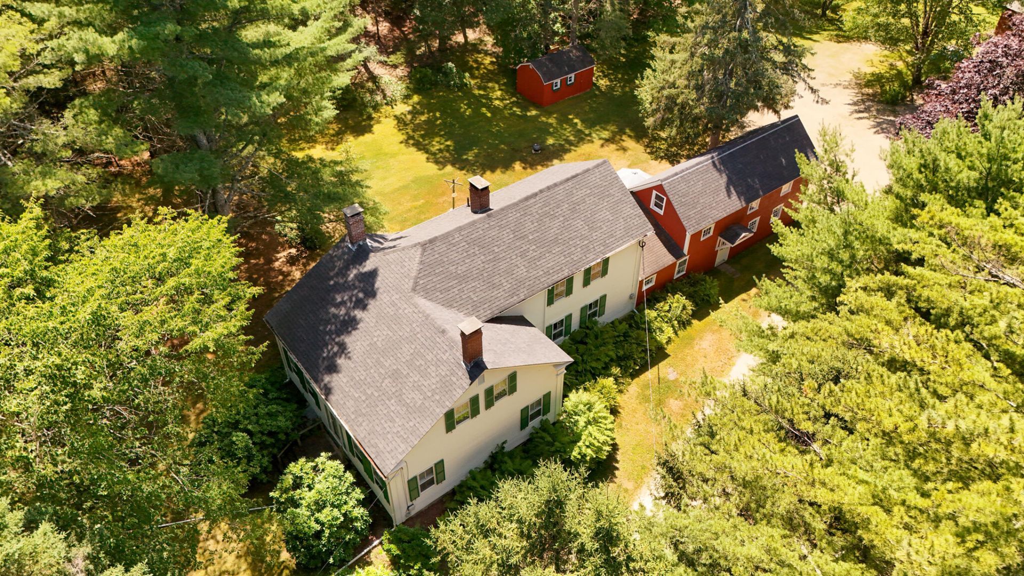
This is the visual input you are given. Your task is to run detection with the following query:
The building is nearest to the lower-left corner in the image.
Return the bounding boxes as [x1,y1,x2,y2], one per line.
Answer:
[262,159,656,537]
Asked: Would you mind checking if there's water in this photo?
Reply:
No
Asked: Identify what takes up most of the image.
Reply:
trees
